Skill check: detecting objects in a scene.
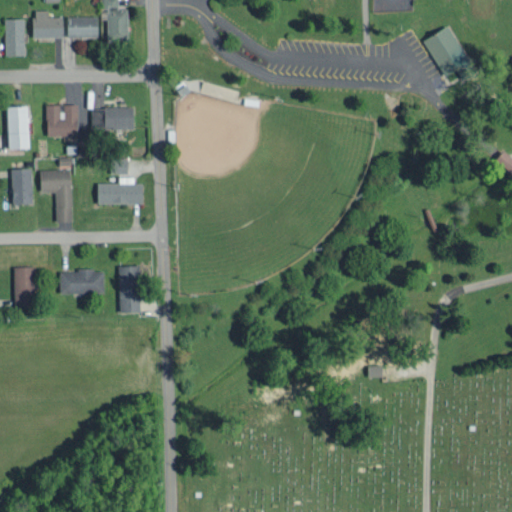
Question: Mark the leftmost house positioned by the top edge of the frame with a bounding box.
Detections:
[5,18,26,57]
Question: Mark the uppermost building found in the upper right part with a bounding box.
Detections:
[424,28,470,81]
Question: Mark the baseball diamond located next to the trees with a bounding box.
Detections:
[175,93,376,296]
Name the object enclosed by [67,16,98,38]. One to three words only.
house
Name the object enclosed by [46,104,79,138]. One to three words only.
house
